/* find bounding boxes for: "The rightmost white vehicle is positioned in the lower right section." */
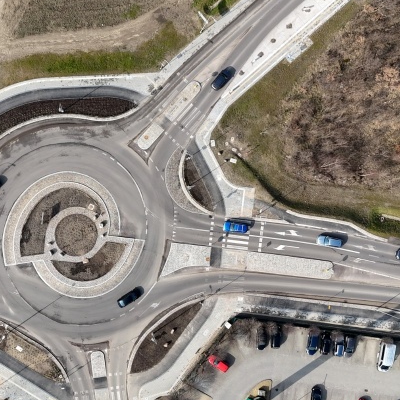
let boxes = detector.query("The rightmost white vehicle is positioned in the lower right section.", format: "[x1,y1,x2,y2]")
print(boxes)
[377,338,396,369]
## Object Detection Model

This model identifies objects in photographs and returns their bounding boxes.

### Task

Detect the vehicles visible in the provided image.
[117,285,143,307]
[304,330,318,355]
[342,333,356,357]
[209,66,234,91]
[224,220,250,232]
[254,323,266,350]
[310,384,323,400]
[331,334,345,356]
[205,352,230,373]
[269,325,280,348]
[395,248,400,258]
[316,234,344,247]
[318,330,331,355]
[377,338,396,369]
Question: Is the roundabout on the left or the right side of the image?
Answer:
left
